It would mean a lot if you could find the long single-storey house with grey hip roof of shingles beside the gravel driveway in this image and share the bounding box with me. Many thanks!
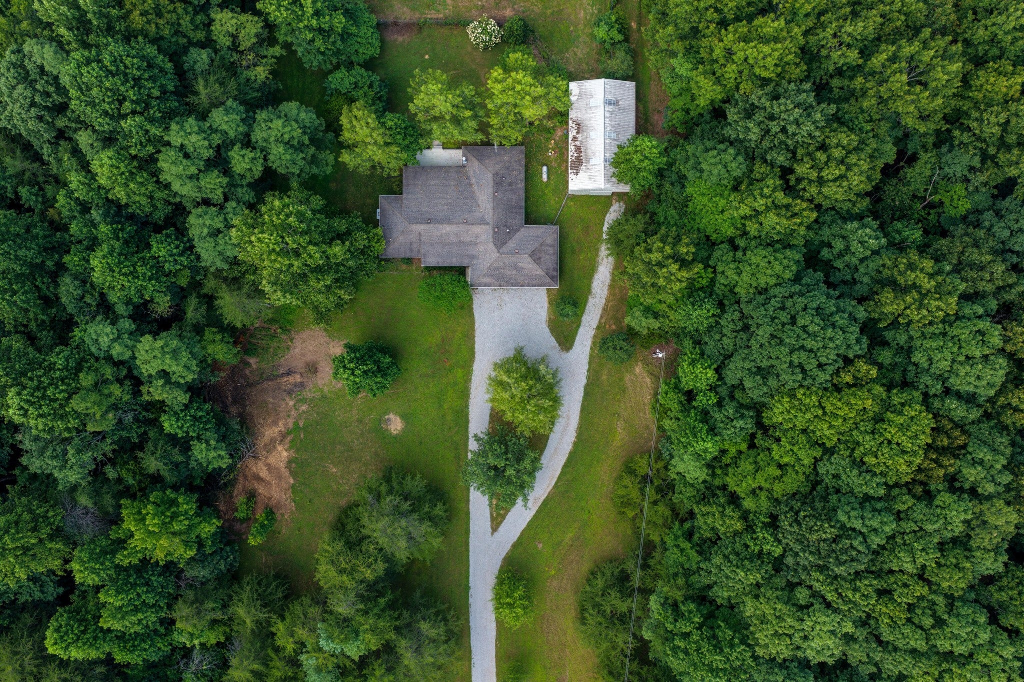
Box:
[379,145,560,289]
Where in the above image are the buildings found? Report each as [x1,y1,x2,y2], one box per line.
[568,78,636,197]
[379,145,560,289]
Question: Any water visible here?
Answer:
No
